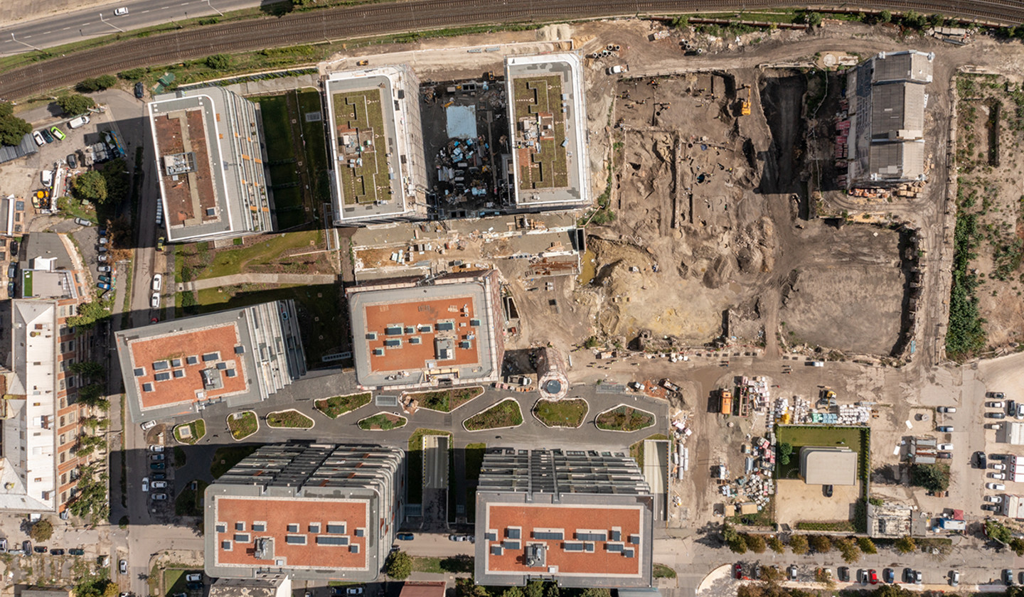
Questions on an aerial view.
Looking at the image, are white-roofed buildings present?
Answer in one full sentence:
Yes, this view includes a white-roofed building.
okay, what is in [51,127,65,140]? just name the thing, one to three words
vehicle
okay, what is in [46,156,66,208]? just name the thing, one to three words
vehicle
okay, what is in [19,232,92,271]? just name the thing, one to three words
building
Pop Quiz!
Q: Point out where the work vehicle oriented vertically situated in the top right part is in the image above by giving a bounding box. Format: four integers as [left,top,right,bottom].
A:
[742,72,754,115]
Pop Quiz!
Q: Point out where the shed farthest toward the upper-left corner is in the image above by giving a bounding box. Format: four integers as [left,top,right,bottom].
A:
[0,135,44,165]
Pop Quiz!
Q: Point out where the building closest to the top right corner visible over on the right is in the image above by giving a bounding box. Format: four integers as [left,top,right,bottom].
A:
[837,57,943,182]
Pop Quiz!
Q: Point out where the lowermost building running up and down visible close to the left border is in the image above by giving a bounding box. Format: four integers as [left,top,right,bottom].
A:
[0,302,88,519]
